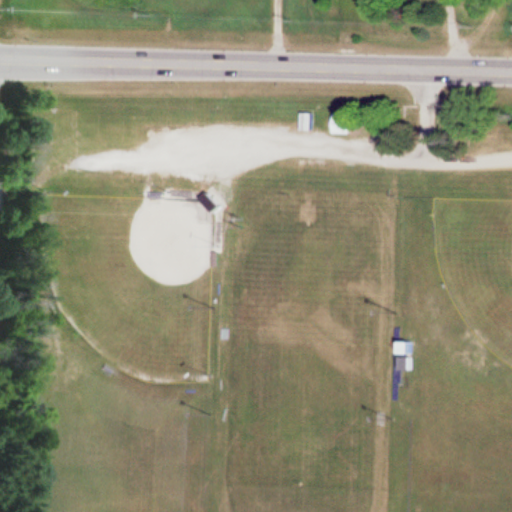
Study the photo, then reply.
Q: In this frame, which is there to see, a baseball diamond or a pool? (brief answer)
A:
baseball diamond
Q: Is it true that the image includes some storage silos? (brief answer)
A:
No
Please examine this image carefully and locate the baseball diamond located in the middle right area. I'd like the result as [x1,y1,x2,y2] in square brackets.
[433,200,512,366]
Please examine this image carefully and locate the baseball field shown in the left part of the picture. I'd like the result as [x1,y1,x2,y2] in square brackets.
[47,190,216,384]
